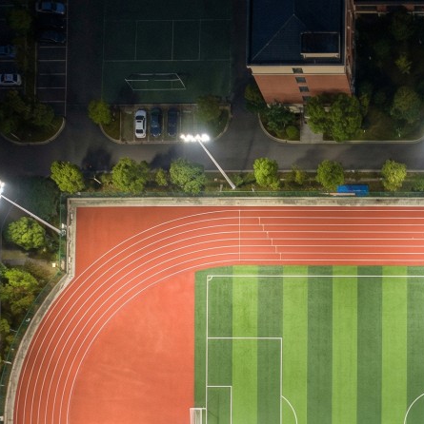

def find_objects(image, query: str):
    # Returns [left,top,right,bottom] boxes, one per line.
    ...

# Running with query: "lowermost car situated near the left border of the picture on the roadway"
[0,74,22,86]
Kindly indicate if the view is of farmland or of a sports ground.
sports ground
